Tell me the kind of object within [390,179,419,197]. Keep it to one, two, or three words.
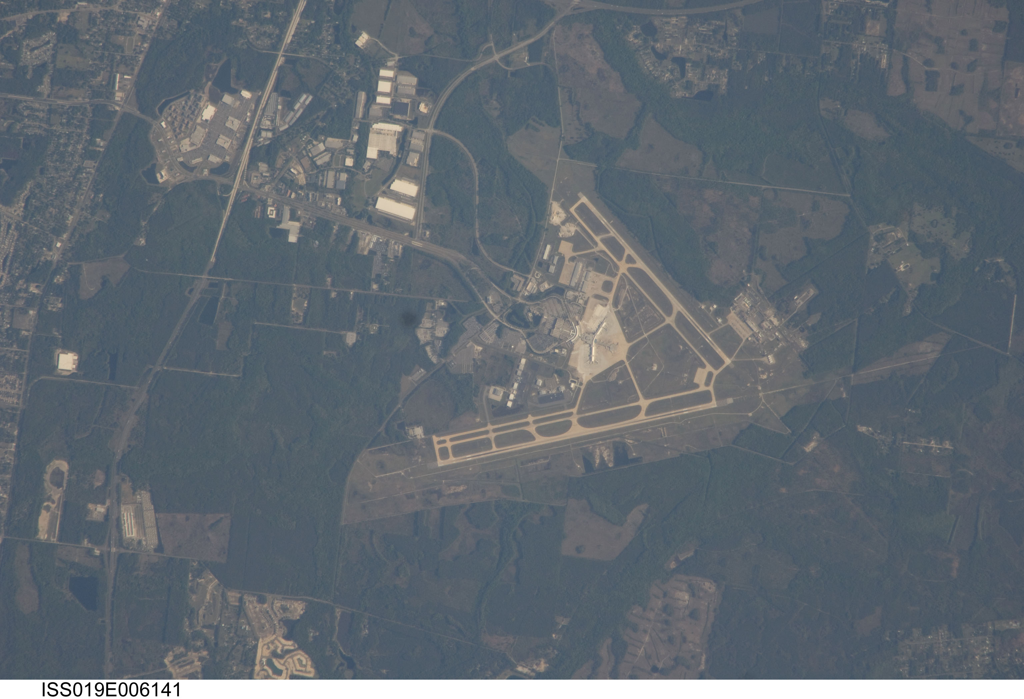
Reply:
building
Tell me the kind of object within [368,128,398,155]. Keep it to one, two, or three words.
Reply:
building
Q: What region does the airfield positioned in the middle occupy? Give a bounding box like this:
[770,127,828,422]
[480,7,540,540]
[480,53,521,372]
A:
[427,177,744,469]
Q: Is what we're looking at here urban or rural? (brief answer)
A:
rural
